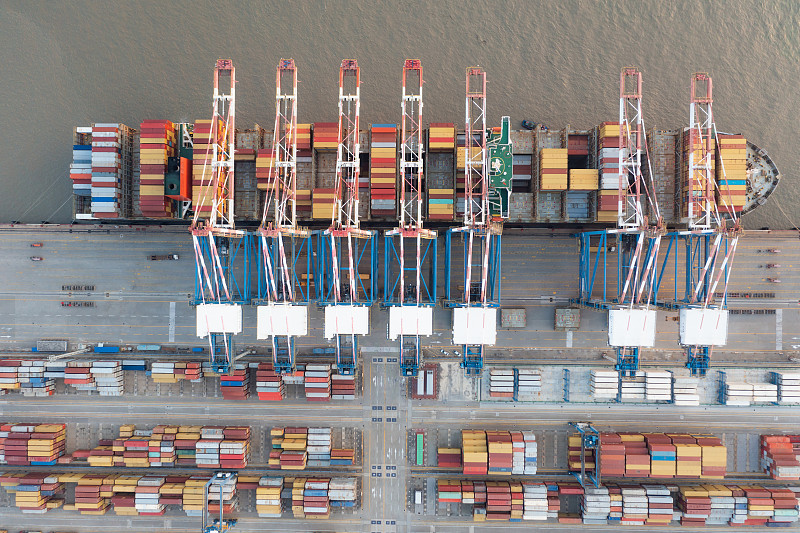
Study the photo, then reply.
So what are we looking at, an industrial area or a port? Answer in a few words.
port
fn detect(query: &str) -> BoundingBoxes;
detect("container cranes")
[563,421,602,490]
[572,66,666,388]
[438,66,505,386]
[315,59,385,381]
[252,59,331,381]
[641,66,743,389]
[377,59,443,382]
[202,471,241,533]
[188,59,273,380]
